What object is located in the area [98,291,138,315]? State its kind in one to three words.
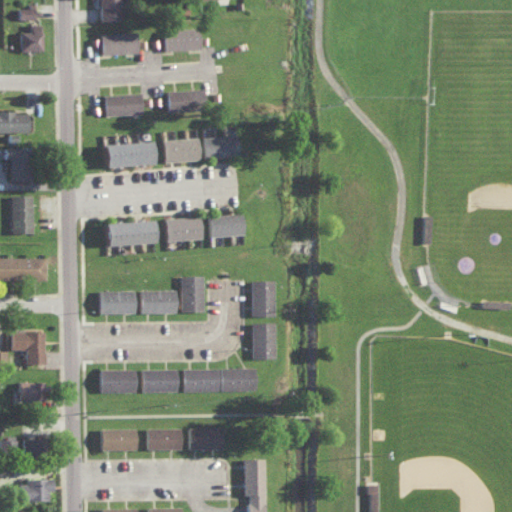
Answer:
building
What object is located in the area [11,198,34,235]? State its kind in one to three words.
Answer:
house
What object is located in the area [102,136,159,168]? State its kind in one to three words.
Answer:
building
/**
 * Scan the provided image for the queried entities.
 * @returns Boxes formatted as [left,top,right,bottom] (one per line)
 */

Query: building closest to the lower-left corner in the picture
[21,480,55,502]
